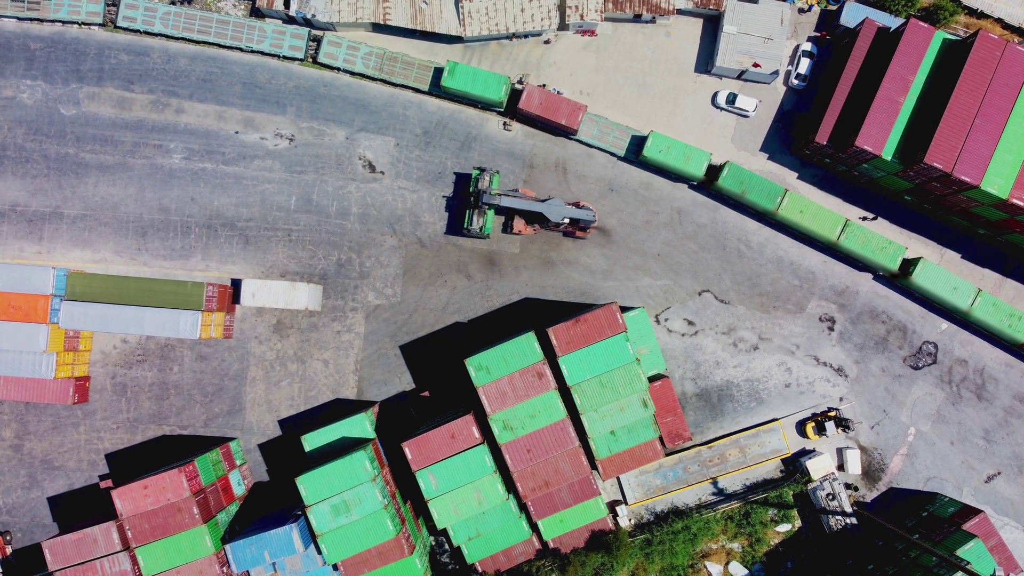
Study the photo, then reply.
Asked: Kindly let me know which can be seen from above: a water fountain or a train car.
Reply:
train car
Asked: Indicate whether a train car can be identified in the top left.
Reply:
Yes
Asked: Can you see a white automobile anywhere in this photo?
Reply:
Yes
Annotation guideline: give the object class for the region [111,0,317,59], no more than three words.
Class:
rail car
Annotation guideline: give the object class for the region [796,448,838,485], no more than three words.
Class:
building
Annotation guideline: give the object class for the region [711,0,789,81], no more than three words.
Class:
house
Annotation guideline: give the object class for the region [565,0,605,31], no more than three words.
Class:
shed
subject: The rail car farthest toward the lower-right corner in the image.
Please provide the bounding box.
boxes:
[891,255,1024,352]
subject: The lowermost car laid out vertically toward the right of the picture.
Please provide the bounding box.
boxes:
[791,41,820,91]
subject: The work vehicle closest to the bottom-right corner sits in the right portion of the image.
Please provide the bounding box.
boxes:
[804,414,857,444]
